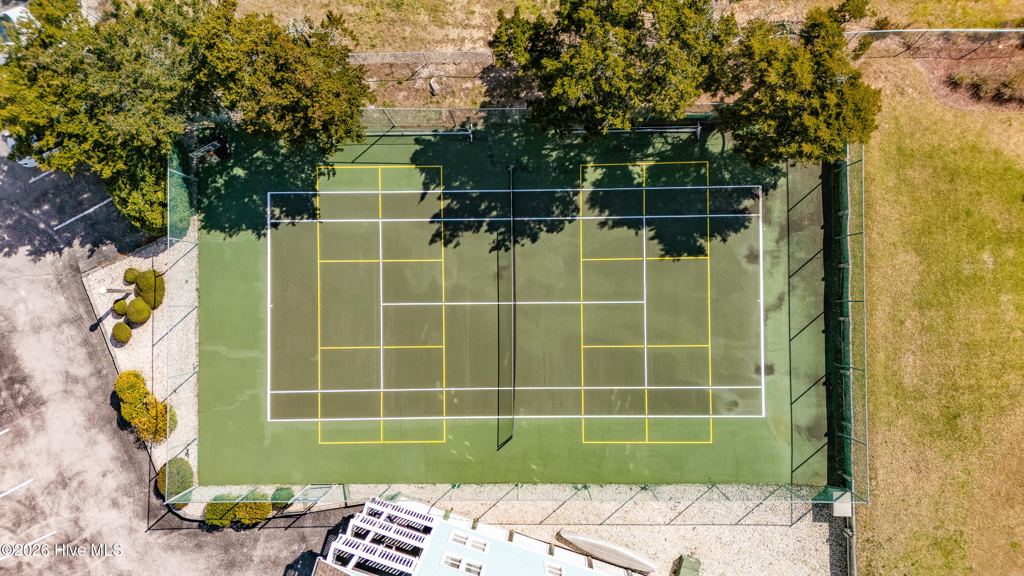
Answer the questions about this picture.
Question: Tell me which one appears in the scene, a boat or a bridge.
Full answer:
Visible in the photo is a boat.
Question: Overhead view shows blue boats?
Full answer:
No, there's no blue boat here.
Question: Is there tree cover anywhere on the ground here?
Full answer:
Yes, some tree cover is visible.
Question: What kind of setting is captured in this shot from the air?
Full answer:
The picture captures a sports ground.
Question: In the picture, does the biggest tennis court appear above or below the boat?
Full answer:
The biggest tennis court is located above the boat in this view.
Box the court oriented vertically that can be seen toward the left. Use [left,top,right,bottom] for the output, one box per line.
[317,165,445,444]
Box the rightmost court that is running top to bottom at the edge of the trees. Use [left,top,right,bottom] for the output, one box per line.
[580,161,712,443]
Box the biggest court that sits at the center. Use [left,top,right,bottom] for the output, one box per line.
[197,123,829,485]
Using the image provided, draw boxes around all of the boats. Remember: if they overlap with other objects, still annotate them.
[559,531,656,575]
